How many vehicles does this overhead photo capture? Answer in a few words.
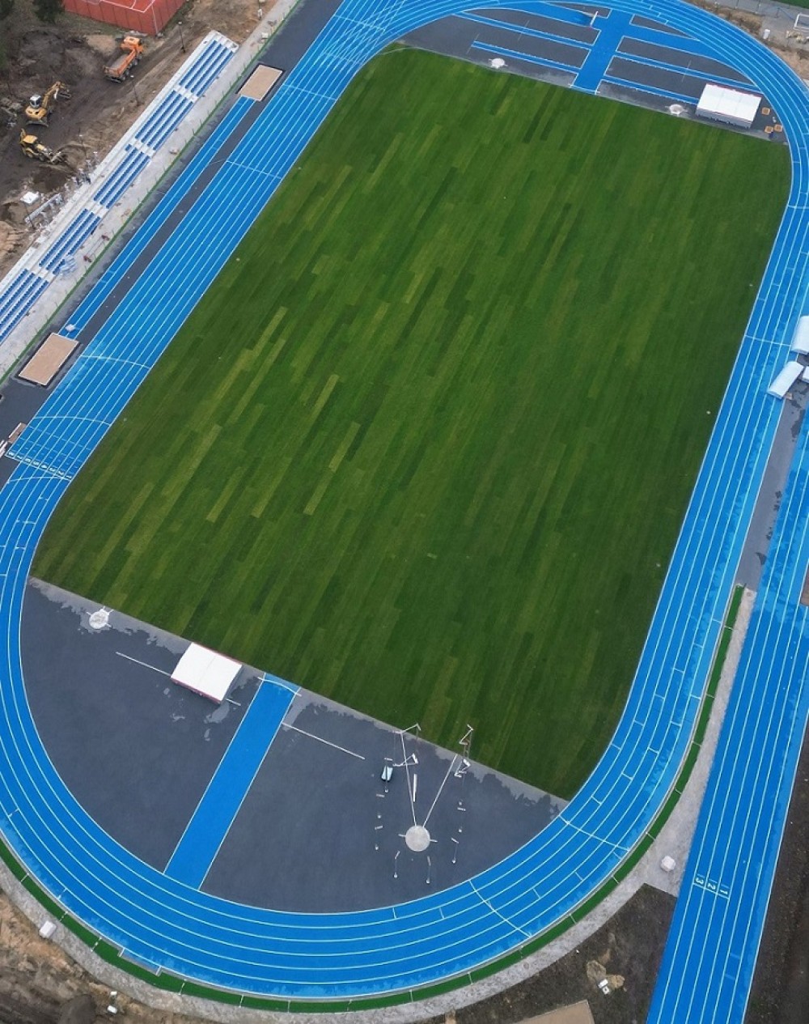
3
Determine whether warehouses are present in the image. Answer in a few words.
No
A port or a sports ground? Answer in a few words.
sports ground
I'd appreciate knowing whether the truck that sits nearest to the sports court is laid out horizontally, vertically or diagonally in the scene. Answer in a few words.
diagonally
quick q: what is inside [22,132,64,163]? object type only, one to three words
work vehicle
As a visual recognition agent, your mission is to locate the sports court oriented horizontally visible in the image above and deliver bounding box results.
[64,0,187,37]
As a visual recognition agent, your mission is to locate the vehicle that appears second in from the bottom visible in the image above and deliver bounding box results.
[27,80,75,130]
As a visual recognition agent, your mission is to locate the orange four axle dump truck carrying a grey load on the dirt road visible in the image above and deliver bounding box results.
[104,40,144,82]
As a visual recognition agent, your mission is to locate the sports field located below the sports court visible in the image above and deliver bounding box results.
[29,42,792,803]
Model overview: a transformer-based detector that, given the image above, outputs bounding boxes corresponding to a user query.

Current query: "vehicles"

[104,40,144,82]
[22,132,64,163]
[27,80,75,130]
